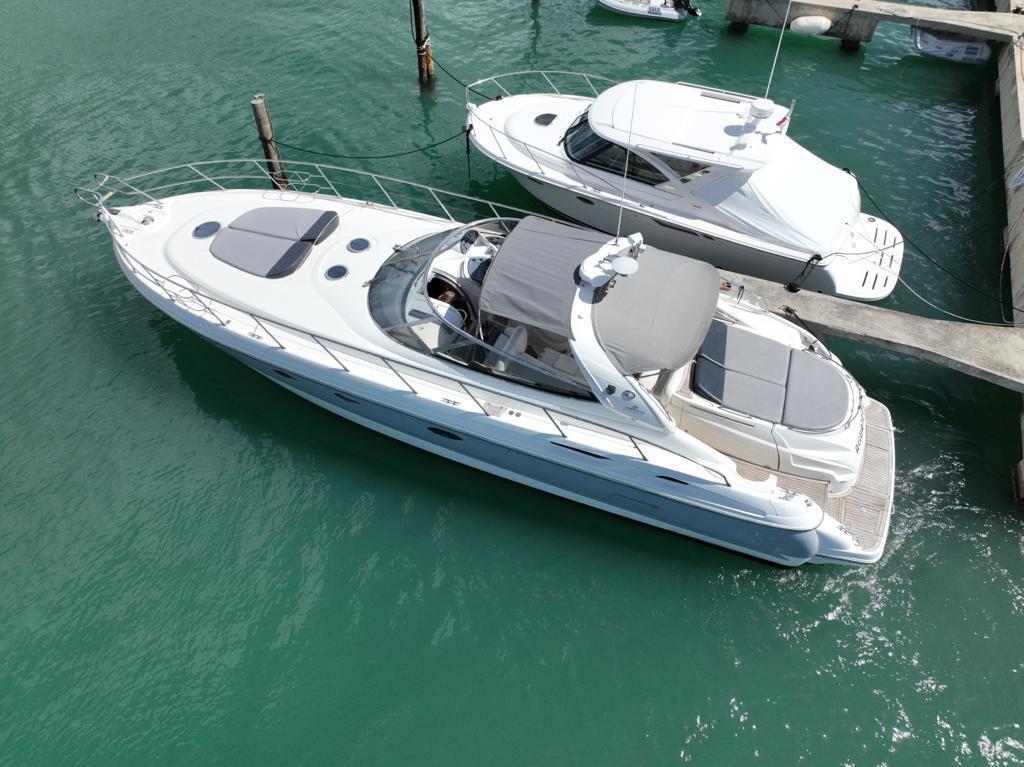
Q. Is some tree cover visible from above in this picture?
No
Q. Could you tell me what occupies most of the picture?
water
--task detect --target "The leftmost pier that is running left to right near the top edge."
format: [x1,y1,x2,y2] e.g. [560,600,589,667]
[726,0,1012,52]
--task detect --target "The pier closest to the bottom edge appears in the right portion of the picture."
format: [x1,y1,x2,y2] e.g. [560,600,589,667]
[707,272,1024,401]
